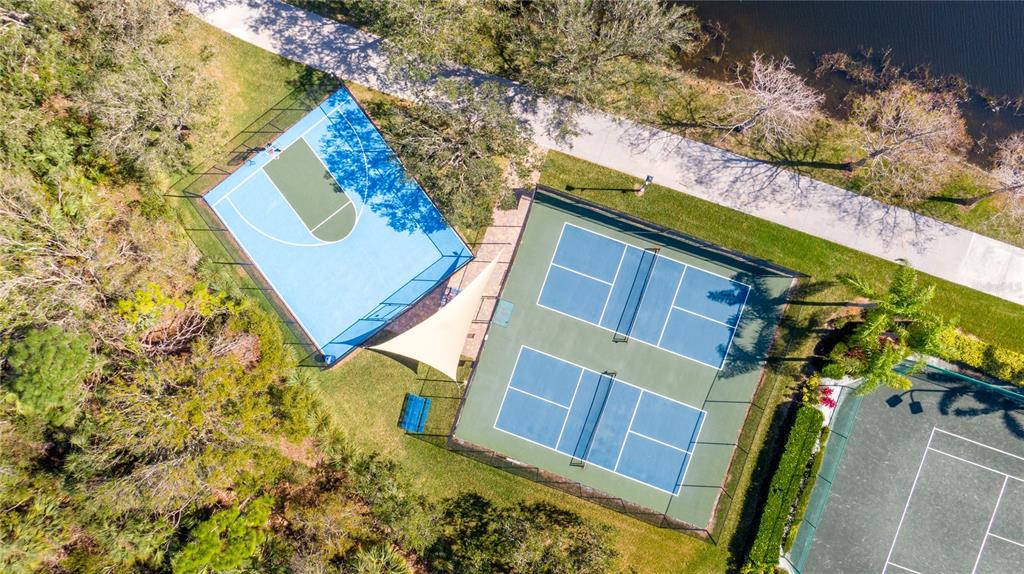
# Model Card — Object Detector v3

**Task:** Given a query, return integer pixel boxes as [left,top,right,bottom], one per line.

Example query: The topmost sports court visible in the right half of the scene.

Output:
[537,223,750,369]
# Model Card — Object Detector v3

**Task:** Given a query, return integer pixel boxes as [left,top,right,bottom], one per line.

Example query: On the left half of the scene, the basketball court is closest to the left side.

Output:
[202,86,473,363]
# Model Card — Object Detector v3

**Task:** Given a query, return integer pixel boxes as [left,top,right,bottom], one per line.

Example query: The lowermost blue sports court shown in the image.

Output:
[495,346,706,495]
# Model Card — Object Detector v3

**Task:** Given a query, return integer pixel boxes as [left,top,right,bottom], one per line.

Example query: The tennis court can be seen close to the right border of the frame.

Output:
[803,361,1024,574]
